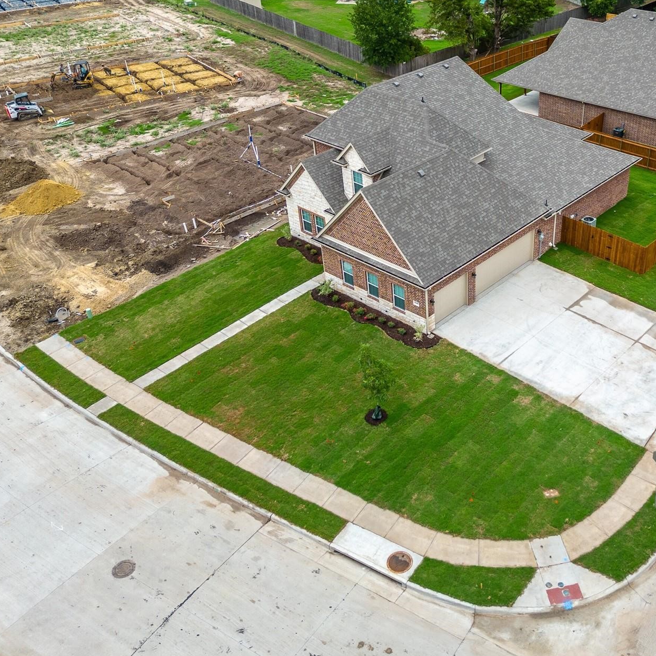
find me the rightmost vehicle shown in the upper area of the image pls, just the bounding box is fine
[46,58,94,90]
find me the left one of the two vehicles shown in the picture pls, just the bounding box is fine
[3,90,53,119]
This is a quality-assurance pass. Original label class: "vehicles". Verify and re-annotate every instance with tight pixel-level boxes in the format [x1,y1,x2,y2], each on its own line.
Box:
[3,90,53,119]
[46,58,94,90]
